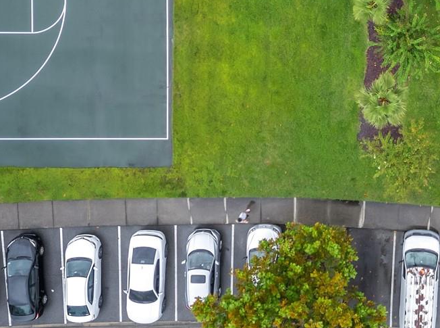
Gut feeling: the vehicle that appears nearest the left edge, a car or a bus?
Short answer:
car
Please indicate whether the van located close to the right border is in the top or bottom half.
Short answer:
bottom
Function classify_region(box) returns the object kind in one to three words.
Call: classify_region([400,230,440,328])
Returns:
van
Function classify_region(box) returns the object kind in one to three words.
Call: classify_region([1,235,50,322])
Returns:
car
